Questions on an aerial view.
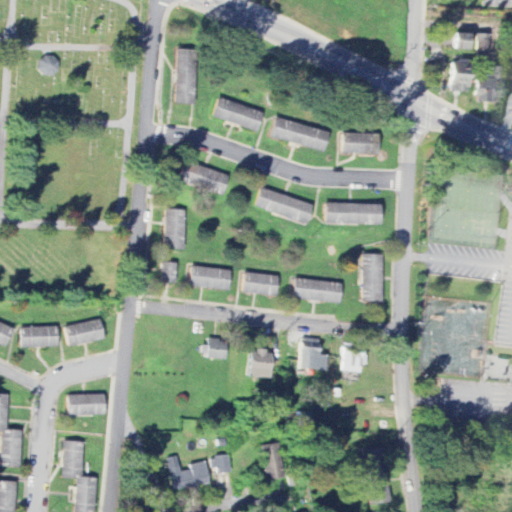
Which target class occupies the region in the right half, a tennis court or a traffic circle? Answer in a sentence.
Looking in the right half, you will find a tennis court.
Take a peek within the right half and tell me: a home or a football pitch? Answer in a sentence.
There is a home within the right half.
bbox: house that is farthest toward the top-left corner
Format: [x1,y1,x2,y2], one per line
[177,48,198,104]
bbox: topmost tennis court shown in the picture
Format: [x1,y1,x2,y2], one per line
[429,172,504,249]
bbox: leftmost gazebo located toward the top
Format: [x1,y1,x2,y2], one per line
[36,53,60,77]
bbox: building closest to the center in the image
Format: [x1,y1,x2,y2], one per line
[242,272,280,296]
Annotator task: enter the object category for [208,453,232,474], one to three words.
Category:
building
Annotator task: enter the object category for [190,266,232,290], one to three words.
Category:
house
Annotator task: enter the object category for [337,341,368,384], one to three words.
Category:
house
